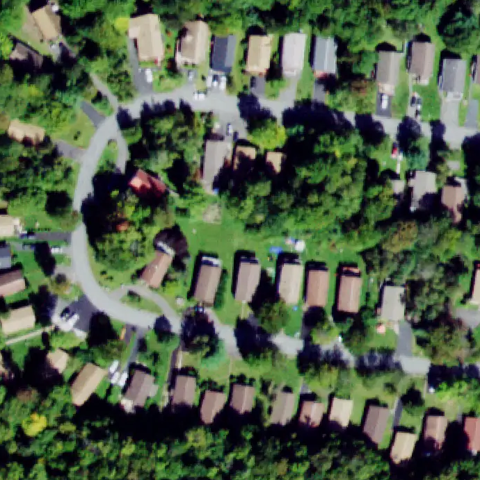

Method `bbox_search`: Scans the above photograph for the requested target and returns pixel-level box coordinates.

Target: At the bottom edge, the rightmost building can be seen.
[464,417,480,456]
